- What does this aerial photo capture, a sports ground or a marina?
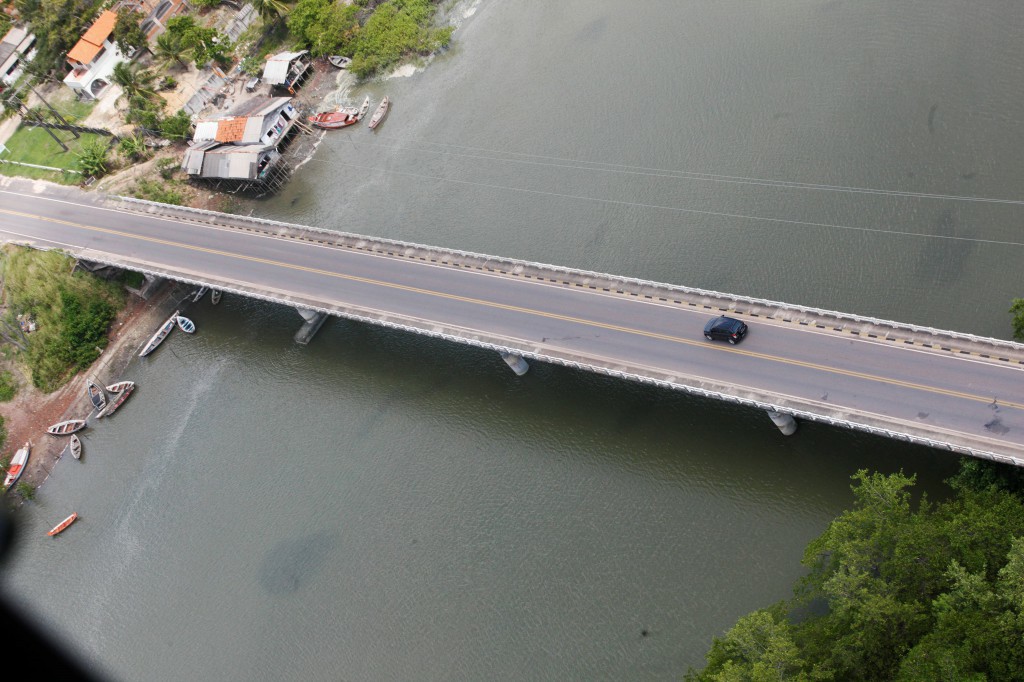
marina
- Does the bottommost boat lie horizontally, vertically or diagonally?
diagonally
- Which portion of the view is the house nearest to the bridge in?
top left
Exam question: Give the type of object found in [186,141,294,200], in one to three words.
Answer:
house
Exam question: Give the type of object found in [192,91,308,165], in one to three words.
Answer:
house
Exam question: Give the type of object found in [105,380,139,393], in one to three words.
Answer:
boat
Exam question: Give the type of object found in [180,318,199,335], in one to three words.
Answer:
boat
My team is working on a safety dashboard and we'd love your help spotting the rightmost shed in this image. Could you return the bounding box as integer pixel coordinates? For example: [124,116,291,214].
[263,50,322,102]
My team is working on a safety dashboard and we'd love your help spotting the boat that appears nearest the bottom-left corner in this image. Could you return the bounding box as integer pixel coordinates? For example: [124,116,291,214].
[47,512,80,538]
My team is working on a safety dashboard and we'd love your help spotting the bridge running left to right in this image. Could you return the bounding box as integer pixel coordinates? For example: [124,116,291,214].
[64,196,1024,474]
